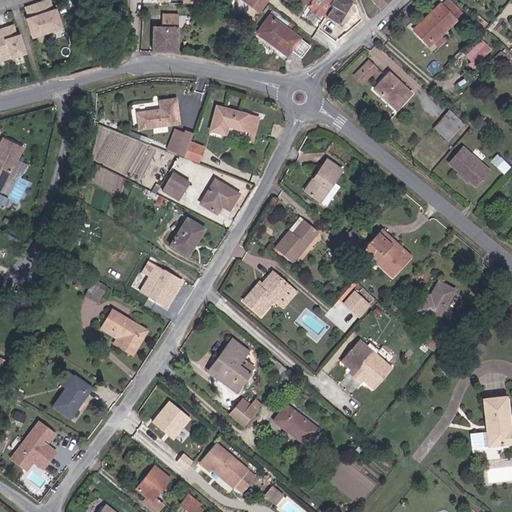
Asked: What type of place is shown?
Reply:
residential area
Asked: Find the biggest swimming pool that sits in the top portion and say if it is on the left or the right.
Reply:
left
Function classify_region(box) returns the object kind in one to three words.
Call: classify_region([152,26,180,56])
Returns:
house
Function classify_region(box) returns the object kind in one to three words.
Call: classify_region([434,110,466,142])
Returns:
building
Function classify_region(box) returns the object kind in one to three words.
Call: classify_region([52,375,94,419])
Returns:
house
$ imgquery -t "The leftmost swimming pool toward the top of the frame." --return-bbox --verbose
[8,178,31,206]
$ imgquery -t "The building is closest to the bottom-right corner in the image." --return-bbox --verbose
[470,396,512,450]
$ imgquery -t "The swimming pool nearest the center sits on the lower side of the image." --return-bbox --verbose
[294,308,330,344]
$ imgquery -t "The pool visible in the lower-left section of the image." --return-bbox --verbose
[20,464,54,496]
